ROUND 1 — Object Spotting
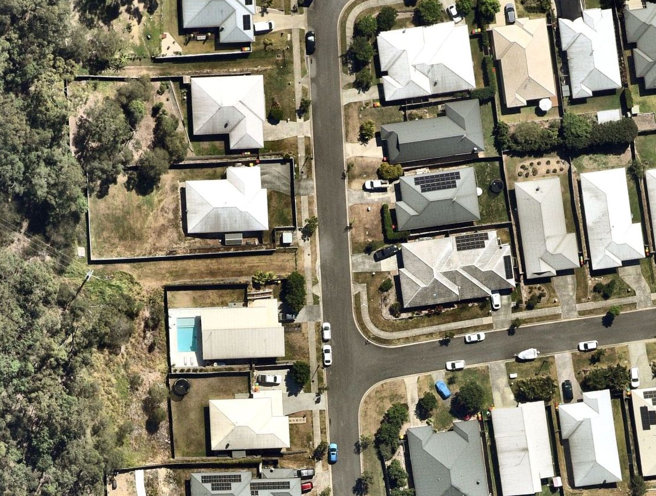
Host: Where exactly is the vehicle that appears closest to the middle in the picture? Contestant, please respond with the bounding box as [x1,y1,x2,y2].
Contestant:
[373,244,398,261]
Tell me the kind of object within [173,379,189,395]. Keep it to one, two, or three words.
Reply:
trampoline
